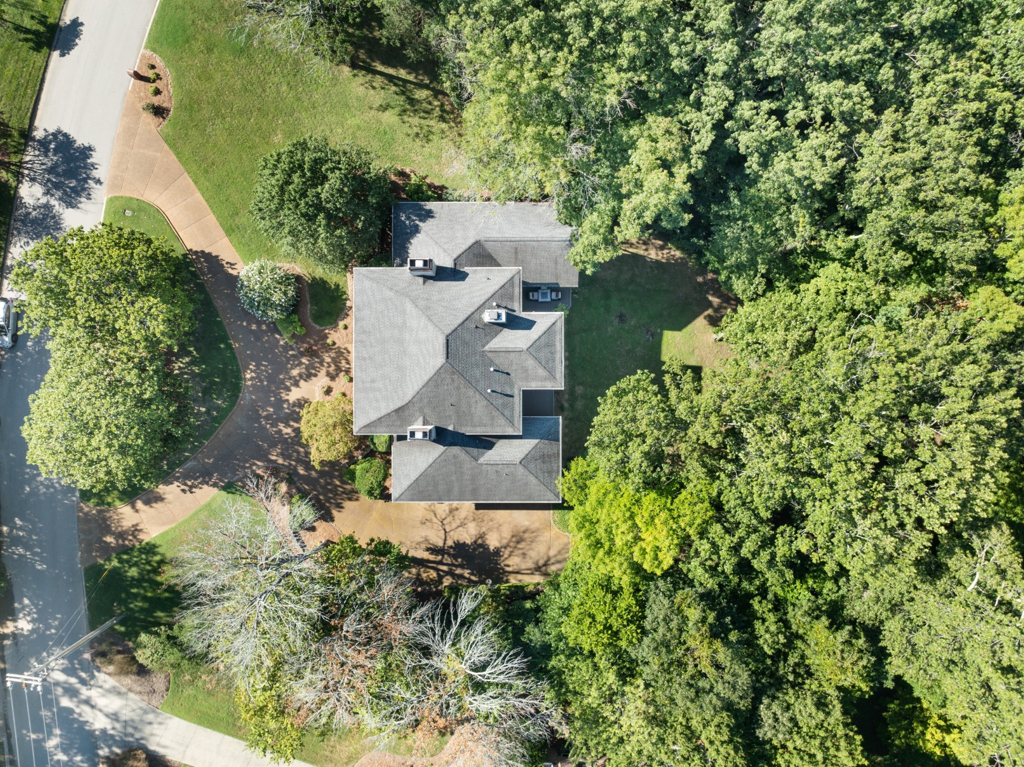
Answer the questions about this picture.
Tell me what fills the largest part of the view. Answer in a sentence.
For the most part, this view shows trees.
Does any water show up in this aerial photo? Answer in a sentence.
No, there is no water in the image.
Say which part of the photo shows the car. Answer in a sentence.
The car sits in the left section of the image.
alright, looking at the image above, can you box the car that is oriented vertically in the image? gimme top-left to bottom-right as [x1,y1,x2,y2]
[0,297,22,350]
